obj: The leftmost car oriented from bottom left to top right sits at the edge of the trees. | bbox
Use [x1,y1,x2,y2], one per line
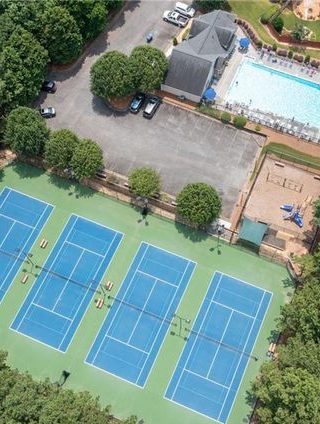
[128,91,144,112]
